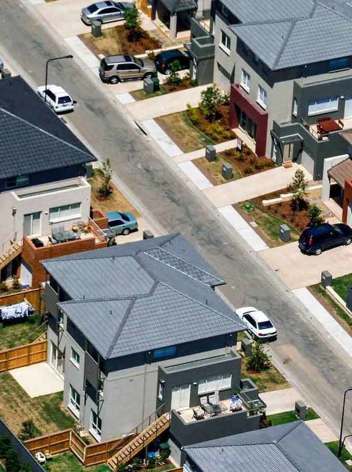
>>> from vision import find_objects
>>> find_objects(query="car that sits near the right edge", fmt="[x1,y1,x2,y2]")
[299,225,352,254]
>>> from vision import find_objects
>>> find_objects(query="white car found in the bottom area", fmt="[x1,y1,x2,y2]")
[236,307,277,344]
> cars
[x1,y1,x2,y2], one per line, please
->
[100,55,154,84]
[37,85,75,117]
[151,51,199,76]
[85,210,143,236]
[299,225,352,254]
[236,307,277,344]
[80,1,129,26]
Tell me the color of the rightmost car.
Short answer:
black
